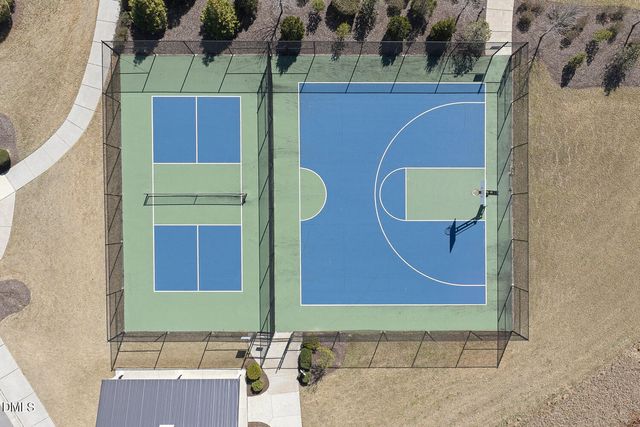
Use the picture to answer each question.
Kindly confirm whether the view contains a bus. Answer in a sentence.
No, I can't see a single bus in this photo.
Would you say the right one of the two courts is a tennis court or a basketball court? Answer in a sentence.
The right one of the two courts appears to be a basketball court.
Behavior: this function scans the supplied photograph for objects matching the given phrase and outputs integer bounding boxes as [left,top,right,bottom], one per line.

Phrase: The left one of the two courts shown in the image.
[120,54,275,332]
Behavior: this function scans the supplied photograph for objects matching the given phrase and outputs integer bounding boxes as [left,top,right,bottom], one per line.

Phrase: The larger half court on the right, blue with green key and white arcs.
[272,54,513,332]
